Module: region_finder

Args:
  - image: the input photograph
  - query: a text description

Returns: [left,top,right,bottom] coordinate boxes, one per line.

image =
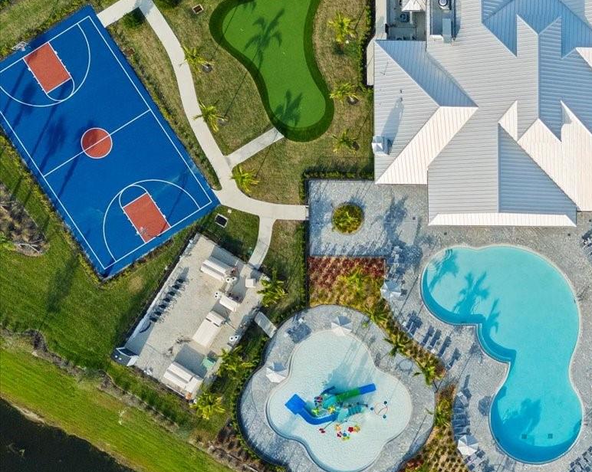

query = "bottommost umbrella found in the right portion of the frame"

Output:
[457,435,478,455]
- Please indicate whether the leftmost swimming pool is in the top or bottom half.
bottom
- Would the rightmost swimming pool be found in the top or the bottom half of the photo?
bottom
